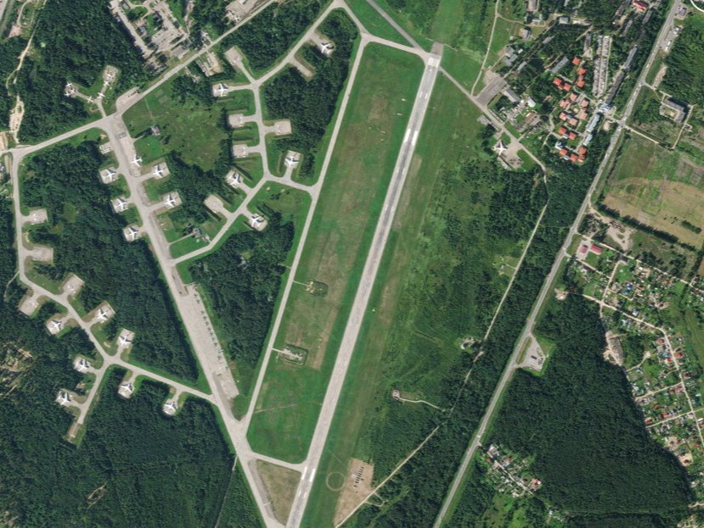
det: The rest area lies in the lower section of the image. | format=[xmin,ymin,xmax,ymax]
[513,330,545,371]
